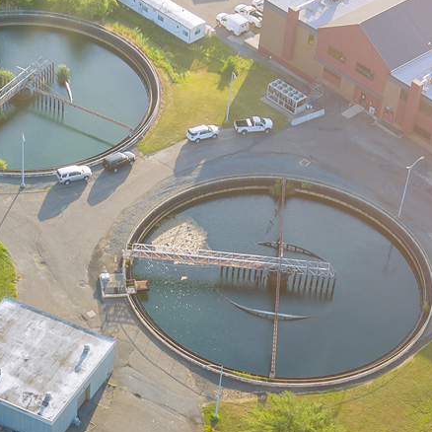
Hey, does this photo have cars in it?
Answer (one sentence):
Yes, there's a car down there.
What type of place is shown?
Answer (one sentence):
The area seen from above is an industrial area.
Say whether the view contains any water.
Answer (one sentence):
Yes, the picture does contain water.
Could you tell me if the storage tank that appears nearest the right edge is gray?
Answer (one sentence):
Yes, the storage tank that appears nearest the right edge appears gray.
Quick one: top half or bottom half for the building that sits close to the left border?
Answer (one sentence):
The bottom half of the photo is where the building that sits close to the left border is.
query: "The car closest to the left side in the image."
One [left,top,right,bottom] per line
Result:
[55,163,94,183]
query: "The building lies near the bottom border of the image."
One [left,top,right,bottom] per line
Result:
[0,291,122,432]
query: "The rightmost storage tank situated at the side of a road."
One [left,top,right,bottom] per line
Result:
[117,169,432,392]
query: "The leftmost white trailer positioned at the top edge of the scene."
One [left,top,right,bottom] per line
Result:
[112,0,204,43]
